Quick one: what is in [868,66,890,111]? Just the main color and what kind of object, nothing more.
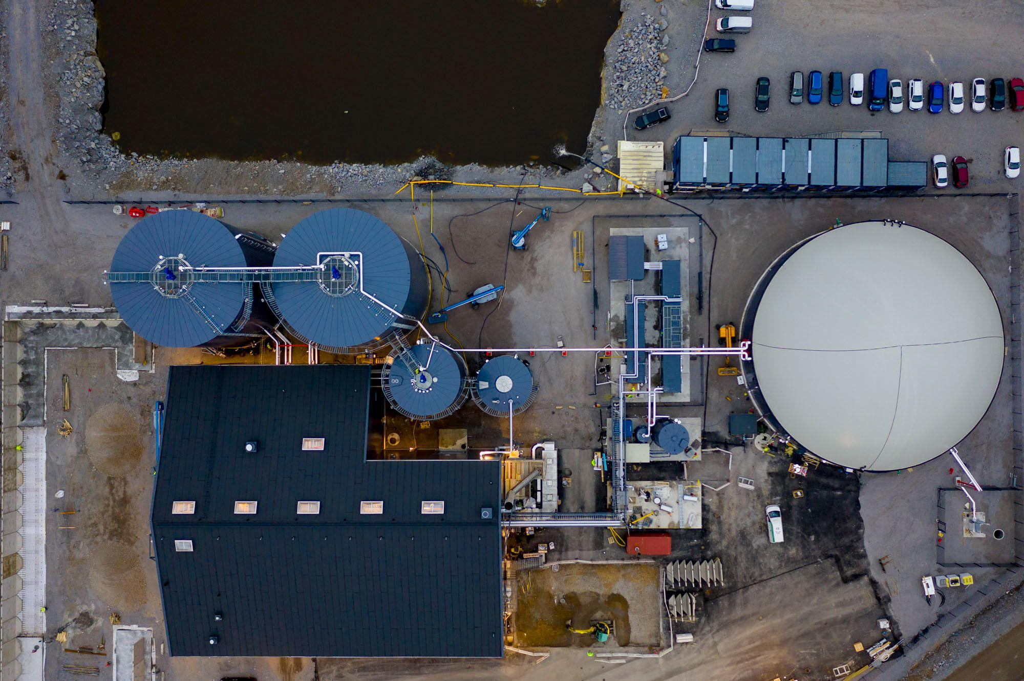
blue vehicle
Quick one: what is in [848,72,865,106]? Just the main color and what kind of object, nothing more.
white vehicle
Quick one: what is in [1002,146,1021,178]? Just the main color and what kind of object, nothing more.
white car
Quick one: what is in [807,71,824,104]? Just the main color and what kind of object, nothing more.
blue car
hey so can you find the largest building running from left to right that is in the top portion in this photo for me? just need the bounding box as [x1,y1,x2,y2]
[671,136,887,194]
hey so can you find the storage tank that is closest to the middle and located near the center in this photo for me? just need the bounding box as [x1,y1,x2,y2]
[469,352,540,420]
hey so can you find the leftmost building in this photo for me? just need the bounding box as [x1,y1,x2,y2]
[149,364,503,659]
